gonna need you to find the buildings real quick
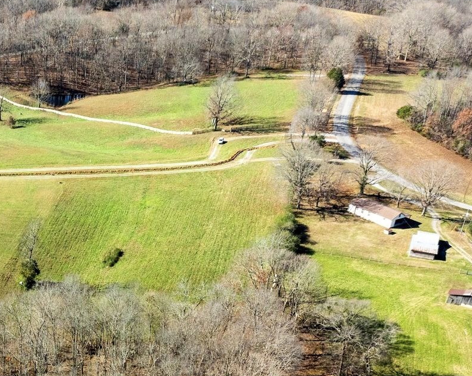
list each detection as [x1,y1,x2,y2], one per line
[408,230,440,261]
[347,193,430,231]
[446,287,472,308]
